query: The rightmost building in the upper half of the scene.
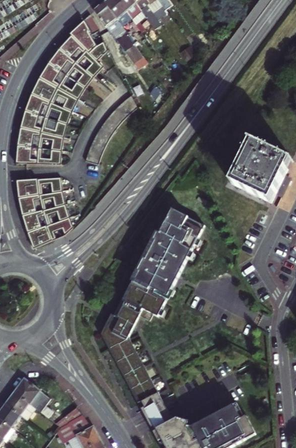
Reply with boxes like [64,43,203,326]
[226,131,290,202]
